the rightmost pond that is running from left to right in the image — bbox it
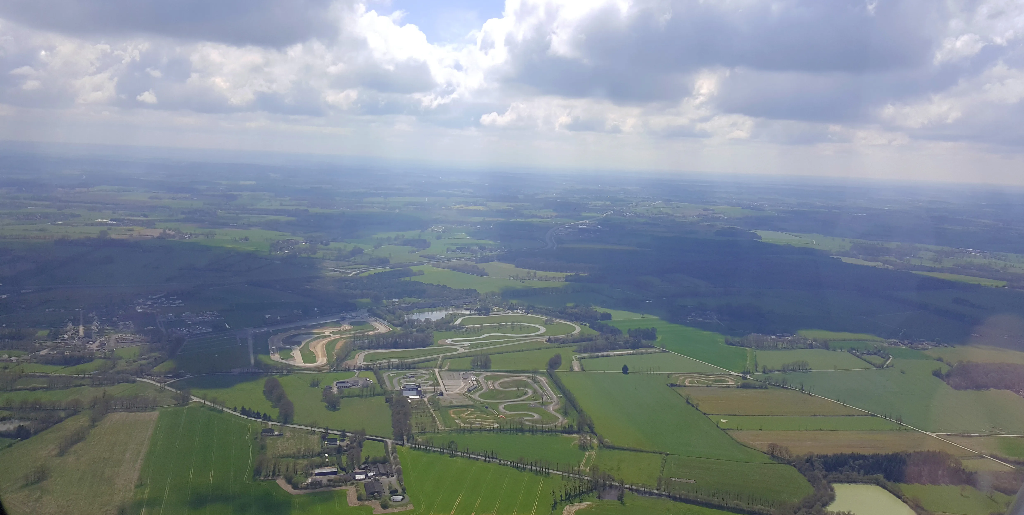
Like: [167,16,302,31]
[816,483,917,515]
